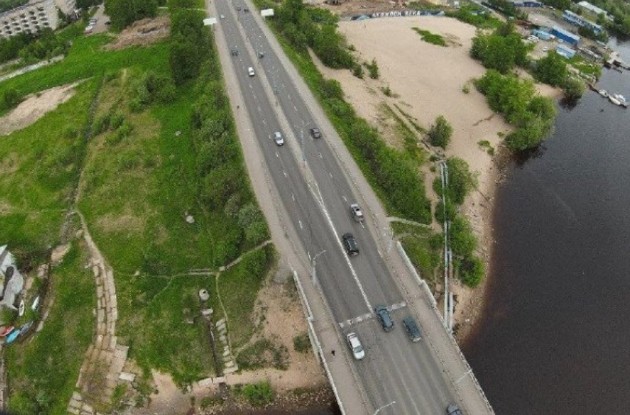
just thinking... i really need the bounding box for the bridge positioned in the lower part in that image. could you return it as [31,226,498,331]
[293,248,496,415]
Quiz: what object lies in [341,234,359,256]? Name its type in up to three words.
car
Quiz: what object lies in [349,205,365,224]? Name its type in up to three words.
car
